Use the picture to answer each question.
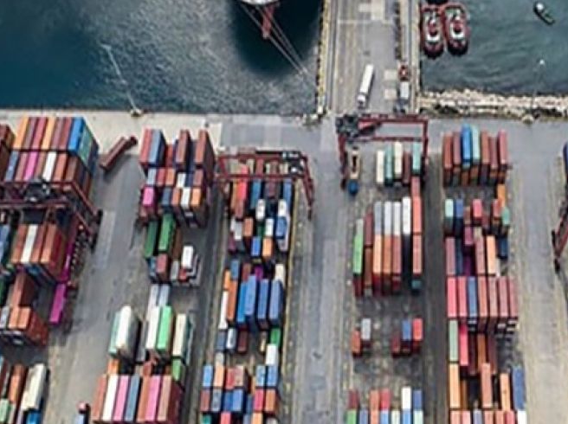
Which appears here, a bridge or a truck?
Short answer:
truck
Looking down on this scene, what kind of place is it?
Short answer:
port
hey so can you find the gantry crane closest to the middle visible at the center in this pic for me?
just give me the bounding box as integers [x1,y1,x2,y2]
[215,148,320,218]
